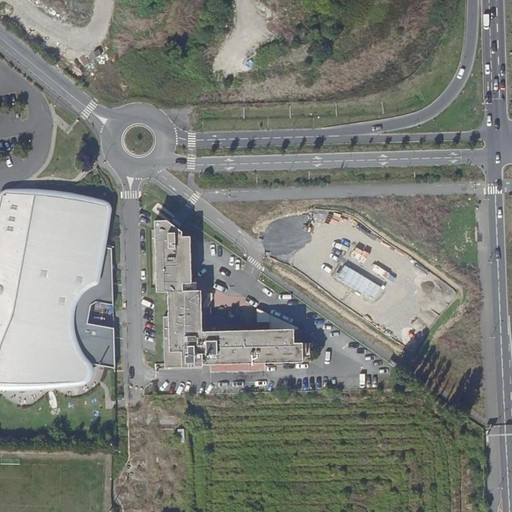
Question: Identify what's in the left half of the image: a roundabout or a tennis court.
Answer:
roundabout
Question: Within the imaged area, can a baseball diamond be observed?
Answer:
No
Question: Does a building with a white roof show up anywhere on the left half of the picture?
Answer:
Yes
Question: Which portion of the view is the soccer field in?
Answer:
bottom left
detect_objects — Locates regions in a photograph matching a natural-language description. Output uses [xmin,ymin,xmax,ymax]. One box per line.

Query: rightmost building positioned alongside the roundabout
[153,219,304,370]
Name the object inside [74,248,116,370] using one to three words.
building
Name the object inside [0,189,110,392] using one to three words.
building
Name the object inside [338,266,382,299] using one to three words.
shed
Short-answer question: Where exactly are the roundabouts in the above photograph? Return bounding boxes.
[84,102,188,190]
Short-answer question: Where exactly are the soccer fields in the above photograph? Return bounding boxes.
[0,460,104,512]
